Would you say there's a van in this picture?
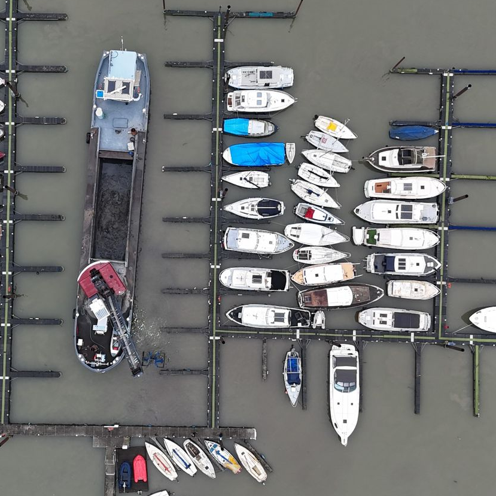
No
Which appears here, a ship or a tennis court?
ship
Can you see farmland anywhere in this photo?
No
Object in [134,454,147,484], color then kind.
red boat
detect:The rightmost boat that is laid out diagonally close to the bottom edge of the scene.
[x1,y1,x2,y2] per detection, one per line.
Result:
[235,443,268,485]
